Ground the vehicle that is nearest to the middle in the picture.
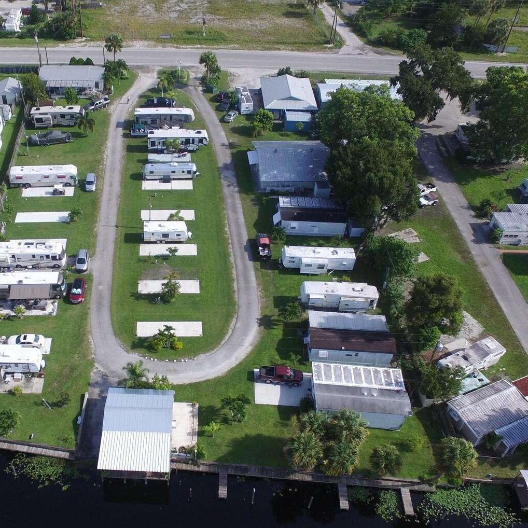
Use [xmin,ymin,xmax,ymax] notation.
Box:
[255,232,274,260]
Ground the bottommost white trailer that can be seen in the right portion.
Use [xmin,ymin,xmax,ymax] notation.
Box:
[301,282,380,315]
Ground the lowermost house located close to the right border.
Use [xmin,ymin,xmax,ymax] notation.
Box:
[448,380,528,460]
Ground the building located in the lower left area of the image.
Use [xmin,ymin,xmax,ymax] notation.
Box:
[98,387,174,489]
